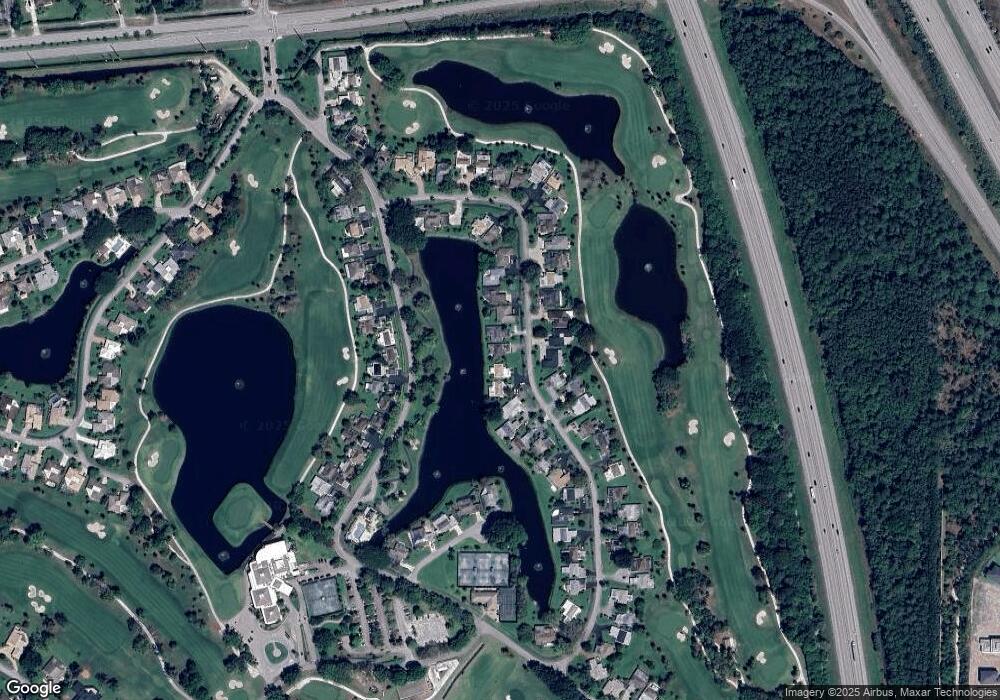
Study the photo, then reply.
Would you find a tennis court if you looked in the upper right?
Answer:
No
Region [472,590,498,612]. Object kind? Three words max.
building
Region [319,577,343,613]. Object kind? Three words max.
tennis court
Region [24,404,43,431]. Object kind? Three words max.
house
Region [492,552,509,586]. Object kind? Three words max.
tennis court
